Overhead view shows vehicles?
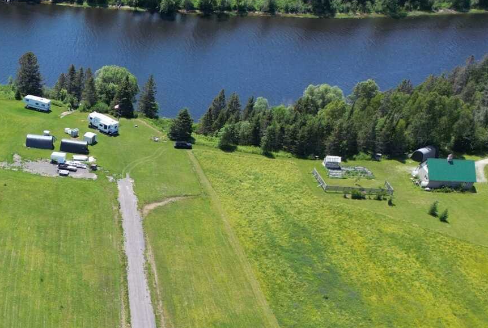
Yes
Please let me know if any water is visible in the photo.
Yes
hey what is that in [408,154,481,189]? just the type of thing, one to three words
building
